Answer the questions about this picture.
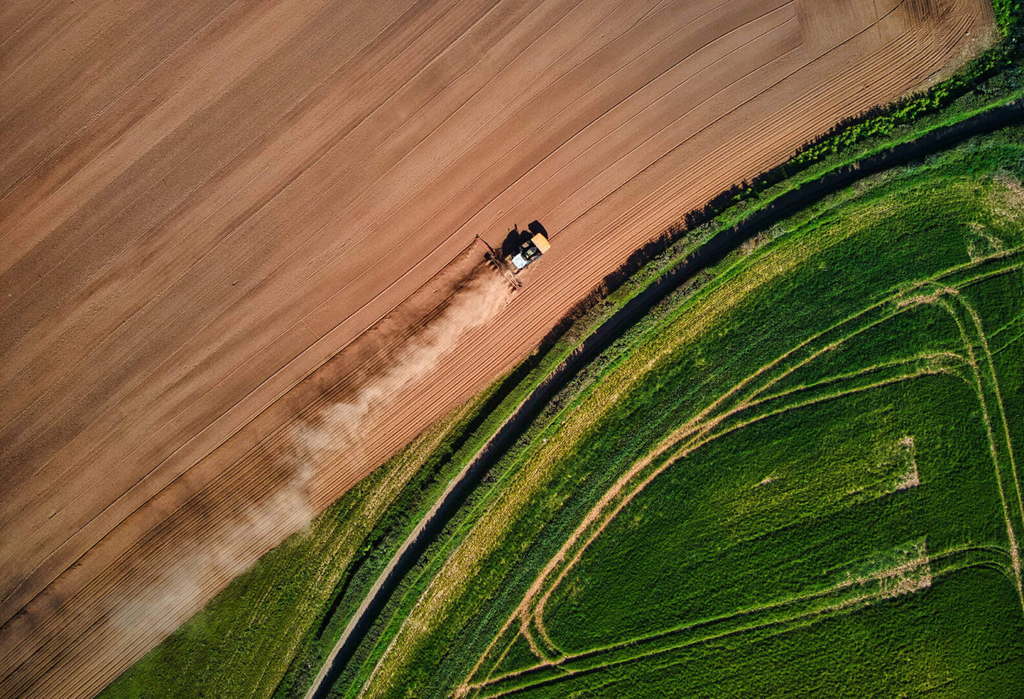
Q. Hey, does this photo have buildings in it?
No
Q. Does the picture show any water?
No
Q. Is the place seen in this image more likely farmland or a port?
farmland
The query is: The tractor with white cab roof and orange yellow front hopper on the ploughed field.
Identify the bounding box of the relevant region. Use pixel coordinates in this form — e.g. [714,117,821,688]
[504,233,550,276]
